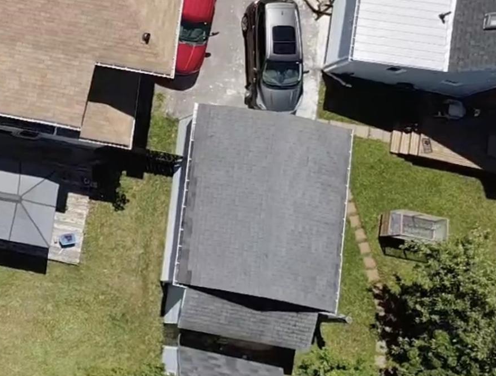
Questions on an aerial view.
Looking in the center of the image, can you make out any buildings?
Yes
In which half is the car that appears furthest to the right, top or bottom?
top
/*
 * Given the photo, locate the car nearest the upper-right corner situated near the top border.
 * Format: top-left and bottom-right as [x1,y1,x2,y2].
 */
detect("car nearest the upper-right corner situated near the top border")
[245,0,308,113]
